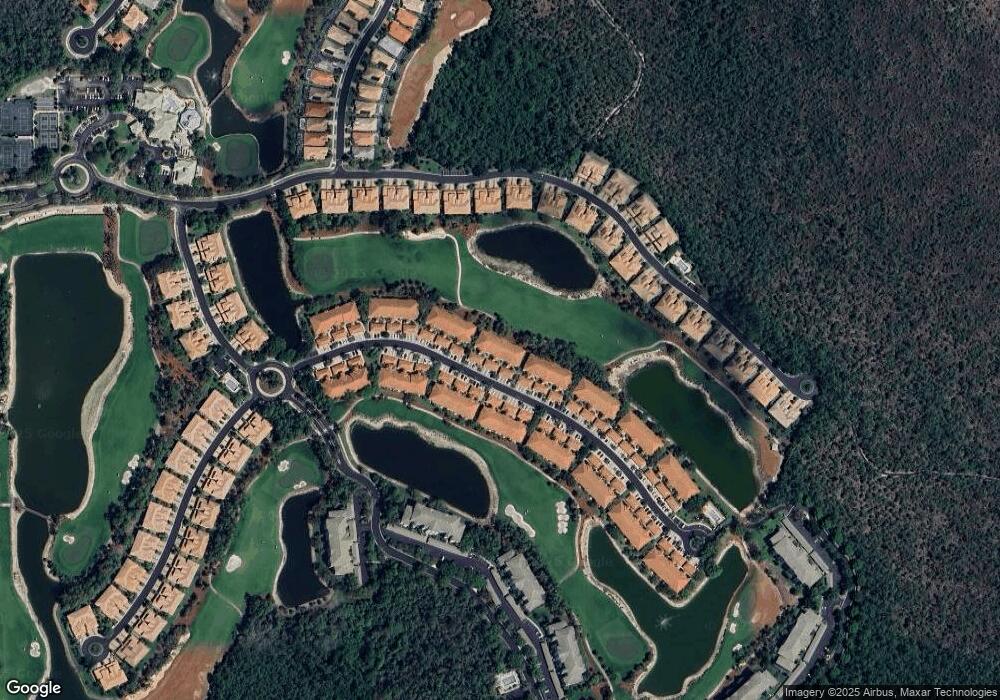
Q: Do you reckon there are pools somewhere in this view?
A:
Yes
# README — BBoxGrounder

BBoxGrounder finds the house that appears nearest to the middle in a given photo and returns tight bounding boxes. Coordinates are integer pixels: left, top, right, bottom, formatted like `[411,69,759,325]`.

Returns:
[471,330,525,378]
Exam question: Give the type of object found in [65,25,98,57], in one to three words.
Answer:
roundabout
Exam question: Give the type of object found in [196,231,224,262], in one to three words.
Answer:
house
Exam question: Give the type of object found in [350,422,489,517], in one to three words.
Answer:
pond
